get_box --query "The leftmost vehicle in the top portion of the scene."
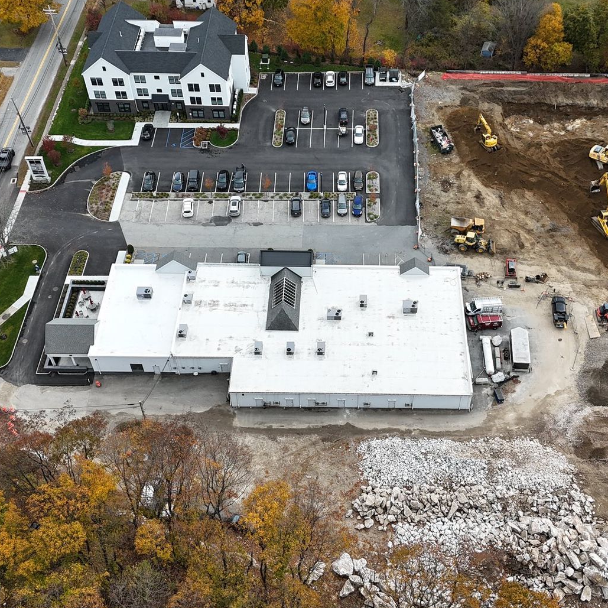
[0,151,13,167]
